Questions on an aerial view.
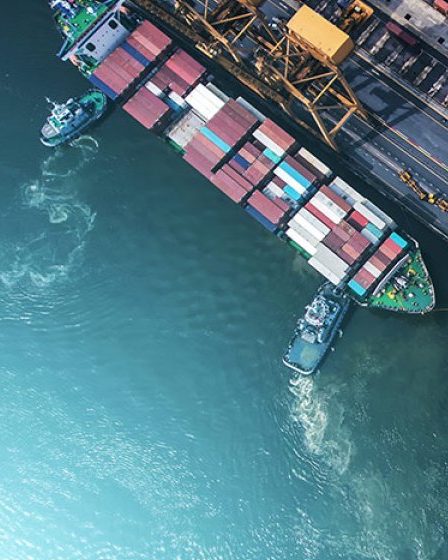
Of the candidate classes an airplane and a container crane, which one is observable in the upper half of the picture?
container crane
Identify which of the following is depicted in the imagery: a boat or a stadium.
boat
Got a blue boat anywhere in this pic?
Yes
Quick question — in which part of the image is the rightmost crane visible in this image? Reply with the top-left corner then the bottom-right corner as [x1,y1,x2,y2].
[340,0,391,61]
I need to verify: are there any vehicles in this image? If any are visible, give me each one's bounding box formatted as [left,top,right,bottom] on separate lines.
[435,197,448,212]
[394,170,439,205]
